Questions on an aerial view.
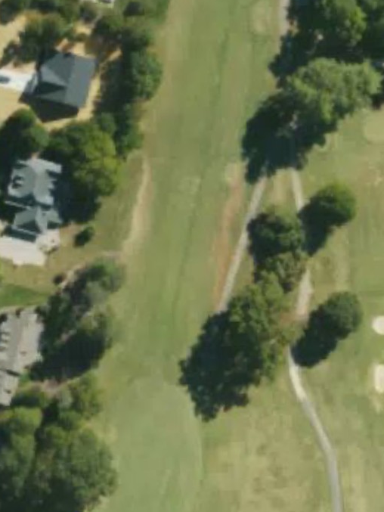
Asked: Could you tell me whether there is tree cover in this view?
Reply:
Yes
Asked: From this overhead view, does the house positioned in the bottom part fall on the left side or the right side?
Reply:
left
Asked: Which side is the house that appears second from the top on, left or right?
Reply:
left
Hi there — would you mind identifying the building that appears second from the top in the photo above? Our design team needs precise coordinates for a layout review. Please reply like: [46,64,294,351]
[0,156,63,236]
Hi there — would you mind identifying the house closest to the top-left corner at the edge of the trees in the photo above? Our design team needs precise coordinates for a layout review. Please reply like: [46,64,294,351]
[27,48,89,118]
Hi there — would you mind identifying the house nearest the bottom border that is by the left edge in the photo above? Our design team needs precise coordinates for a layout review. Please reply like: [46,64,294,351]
[0,305,45,409]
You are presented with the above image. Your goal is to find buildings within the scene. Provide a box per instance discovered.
[0,156,63,236]
[0,305,45,409]
[27,48,89,118]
